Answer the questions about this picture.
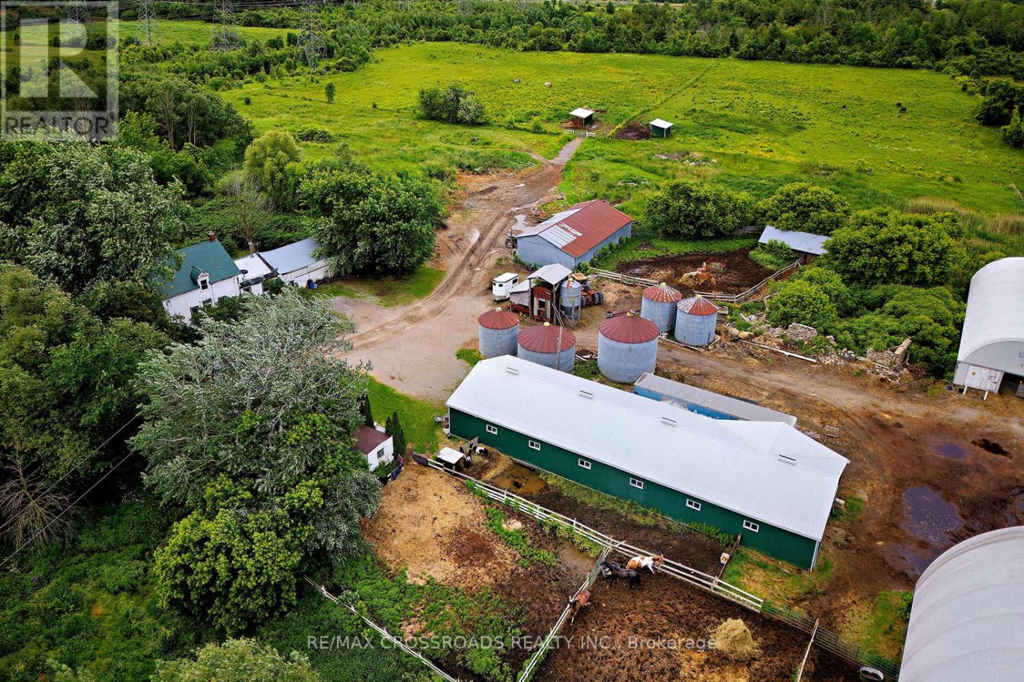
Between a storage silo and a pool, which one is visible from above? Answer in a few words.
storage silo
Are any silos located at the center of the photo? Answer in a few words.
Yes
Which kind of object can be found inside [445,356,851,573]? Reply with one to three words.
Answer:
barn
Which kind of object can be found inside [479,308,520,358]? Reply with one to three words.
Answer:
silo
